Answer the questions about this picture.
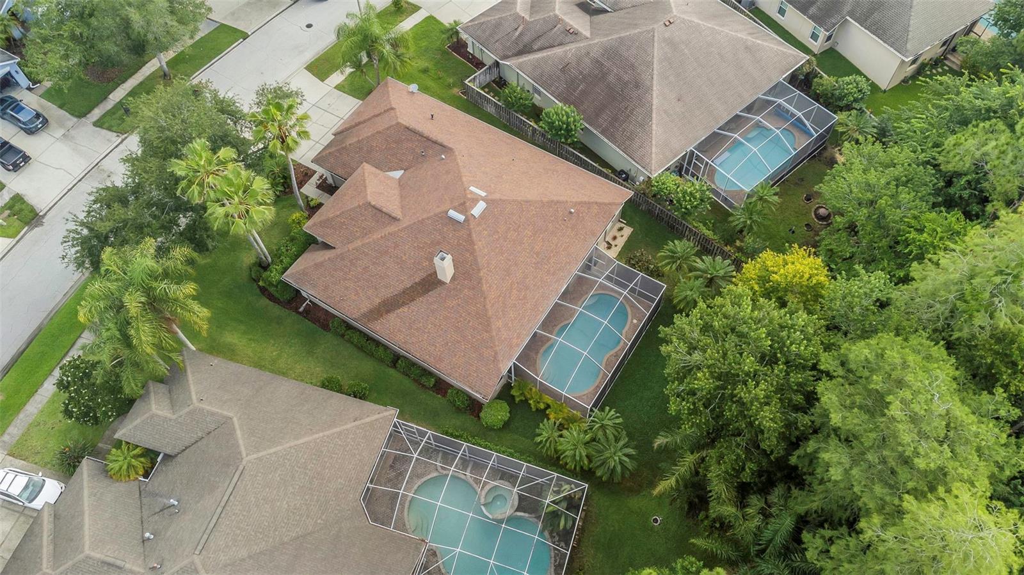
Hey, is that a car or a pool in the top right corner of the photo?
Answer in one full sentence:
The feature located in the top right corner of the photo is a pool.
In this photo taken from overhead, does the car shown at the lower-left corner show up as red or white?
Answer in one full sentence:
The car shown at the lower-left corner looks white in the image.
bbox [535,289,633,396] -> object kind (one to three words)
swimming pool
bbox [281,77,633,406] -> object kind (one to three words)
house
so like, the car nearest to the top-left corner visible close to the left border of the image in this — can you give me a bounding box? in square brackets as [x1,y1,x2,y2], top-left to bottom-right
[0,101,48,135]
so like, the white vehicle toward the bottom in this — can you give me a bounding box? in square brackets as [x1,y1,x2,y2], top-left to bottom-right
[0,460,64,504]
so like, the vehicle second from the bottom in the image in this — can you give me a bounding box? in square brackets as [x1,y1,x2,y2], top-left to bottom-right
[0,135,34,172]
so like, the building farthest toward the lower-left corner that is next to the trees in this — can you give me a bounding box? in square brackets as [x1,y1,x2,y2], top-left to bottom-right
[0,347,426,575]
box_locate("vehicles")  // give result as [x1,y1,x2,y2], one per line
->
[0,135,34,172]
[0,101,48,135]
[0,460,64,504]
